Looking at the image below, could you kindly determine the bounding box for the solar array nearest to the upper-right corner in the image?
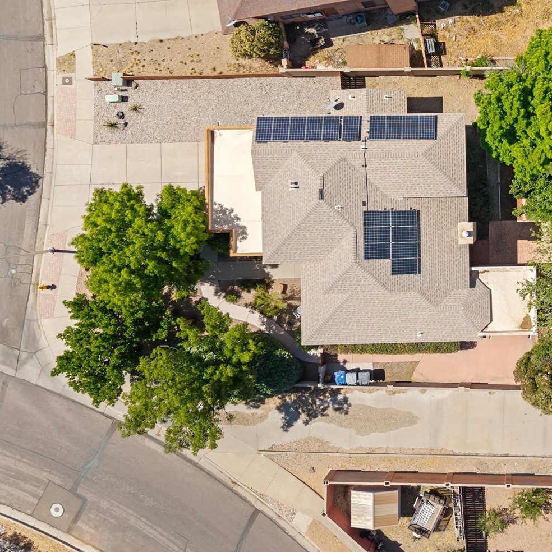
[369,116,435,139]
